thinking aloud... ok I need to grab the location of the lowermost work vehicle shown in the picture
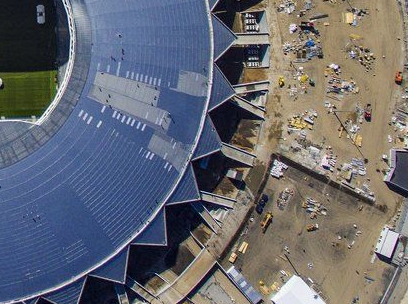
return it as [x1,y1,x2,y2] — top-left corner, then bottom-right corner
[255,278,271,298]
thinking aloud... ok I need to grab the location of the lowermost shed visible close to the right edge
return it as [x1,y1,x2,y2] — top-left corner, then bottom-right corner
[371,229,398,258]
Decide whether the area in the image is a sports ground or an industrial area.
sports ground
